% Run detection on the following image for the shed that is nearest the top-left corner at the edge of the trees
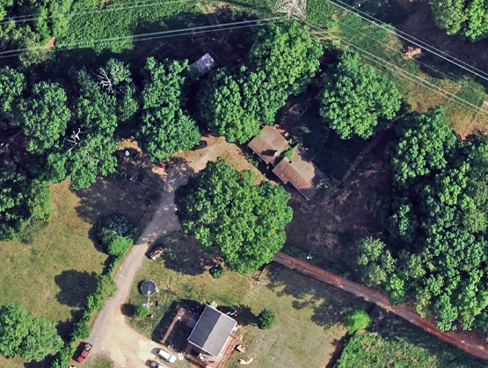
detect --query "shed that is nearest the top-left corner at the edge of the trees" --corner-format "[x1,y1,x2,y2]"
[189,53,214,76]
